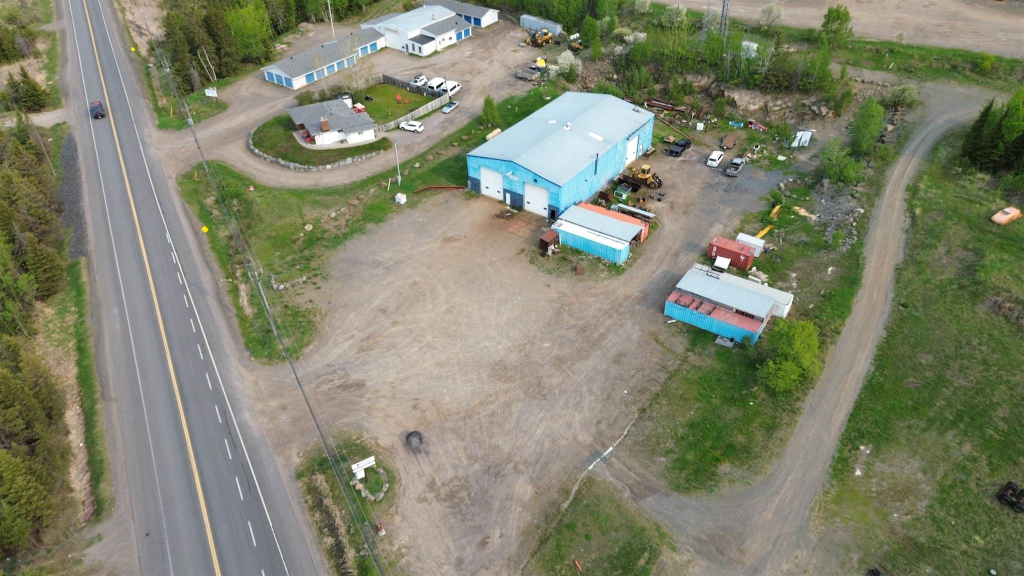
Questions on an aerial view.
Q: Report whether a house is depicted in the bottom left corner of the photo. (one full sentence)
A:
No, I see no house in the bottom left corner of the photo.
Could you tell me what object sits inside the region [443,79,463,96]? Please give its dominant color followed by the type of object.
white vehicle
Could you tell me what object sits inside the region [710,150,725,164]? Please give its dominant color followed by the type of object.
white car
